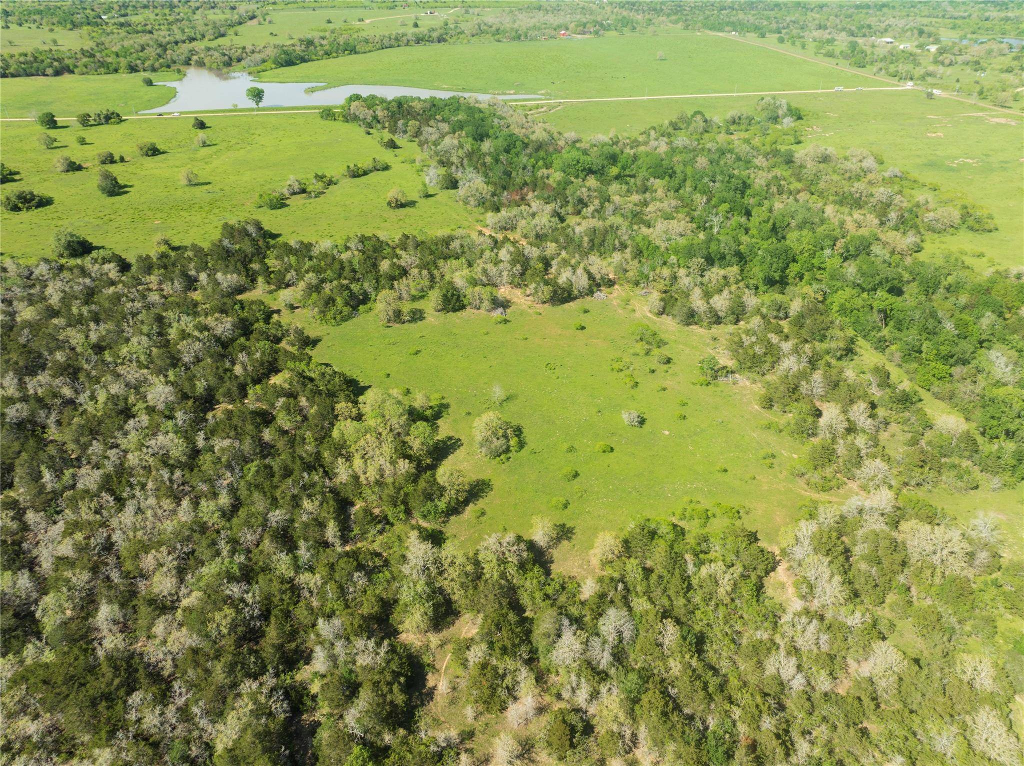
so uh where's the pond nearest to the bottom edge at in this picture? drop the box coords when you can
[142,67,543,113]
